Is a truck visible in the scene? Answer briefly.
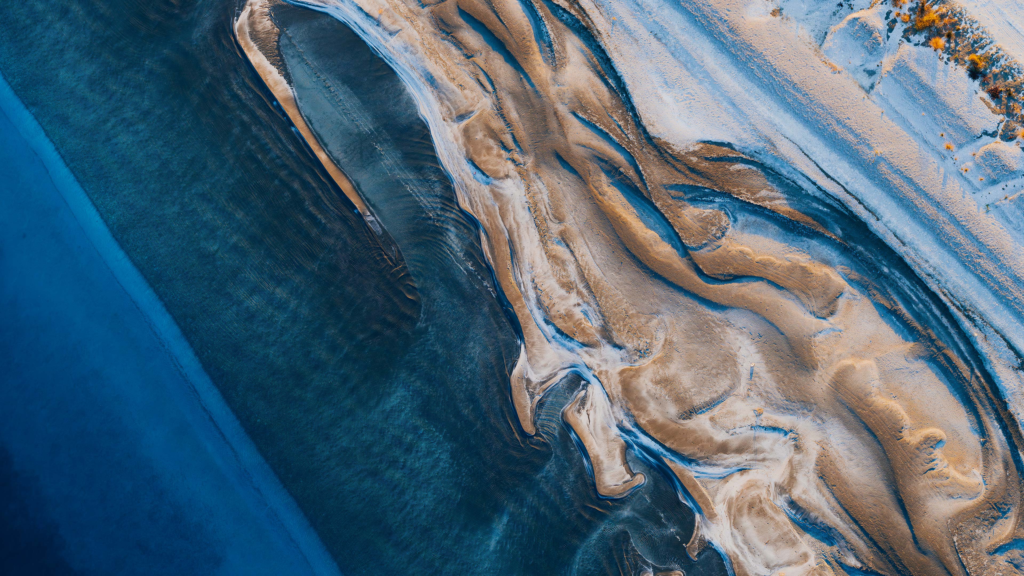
No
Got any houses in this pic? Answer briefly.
No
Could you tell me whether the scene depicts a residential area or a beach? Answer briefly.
beach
